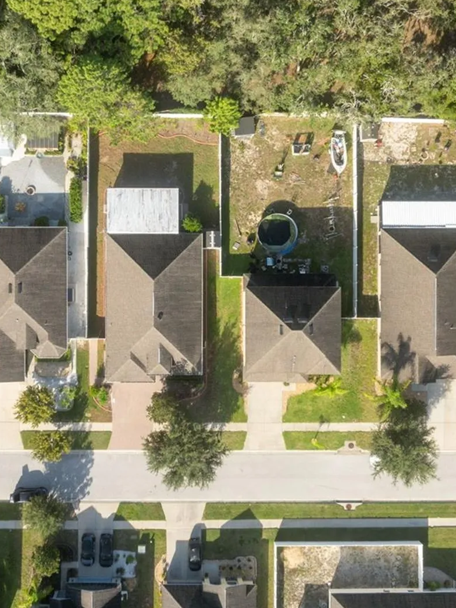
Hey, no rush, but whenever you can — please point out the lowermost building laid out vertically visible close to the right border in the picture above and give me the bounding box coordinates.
[377,201,456,385]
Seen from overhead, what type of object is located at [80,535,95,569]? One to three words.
car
